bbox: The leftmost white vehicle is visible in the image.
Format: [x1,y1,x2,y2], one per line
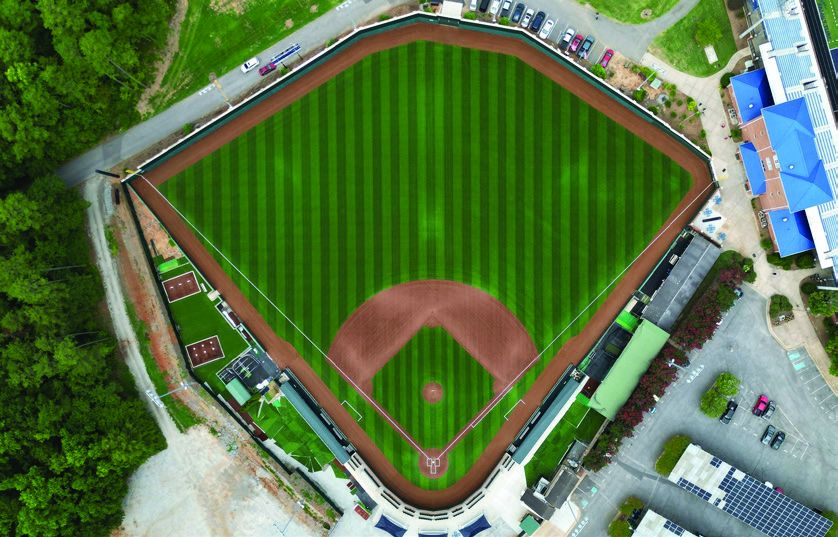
[242,56,260,70]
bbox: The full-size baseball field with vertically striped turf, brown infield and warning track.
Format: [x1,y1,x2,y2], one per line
[128,23,717,510]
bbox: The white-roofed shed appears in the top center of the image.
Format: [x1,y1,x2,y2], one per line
[441,1,463,18]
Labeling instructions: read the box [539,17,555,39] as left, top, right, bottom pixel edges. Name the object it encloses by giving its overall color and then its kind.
white car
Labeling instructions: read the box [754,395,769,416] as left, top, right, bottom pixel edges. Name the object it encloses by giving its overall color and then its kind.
pink car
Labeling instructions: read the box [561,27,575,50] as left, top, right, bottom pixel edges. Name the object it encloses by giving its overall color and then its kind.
white vehicle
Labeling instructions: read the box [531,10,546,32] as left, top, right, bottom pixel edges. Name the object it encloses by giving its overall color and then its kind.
blue car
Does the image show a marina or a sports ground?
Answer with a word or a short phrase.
sports ground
